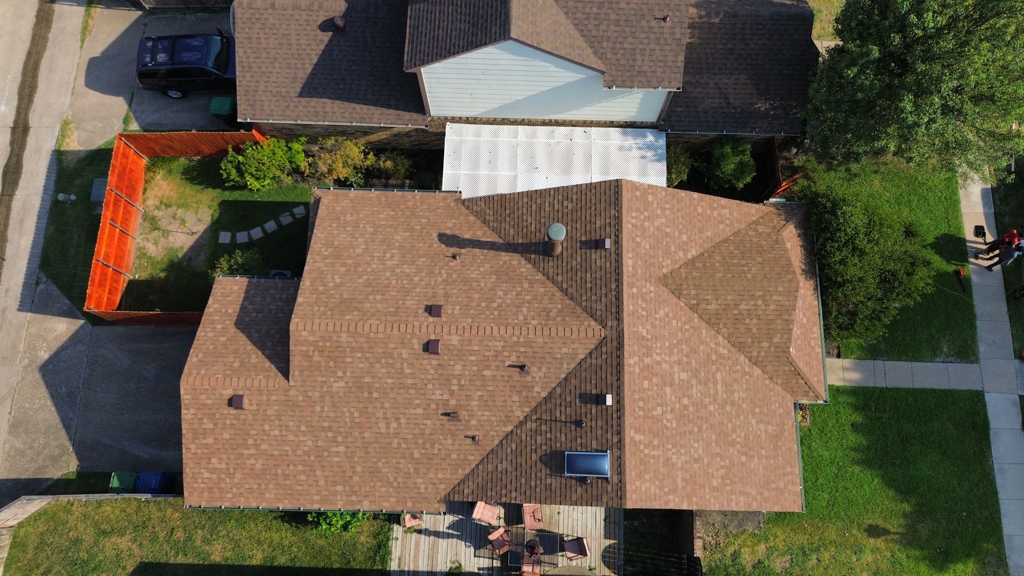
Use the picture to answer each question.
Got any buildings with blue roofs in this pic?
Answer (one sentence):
No, there is no building with a blue roof in the image.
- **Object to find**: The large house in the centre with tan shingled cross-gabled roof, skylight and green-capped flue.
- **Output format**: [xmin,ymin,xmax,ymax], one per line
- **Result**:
[182,178,831,518]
